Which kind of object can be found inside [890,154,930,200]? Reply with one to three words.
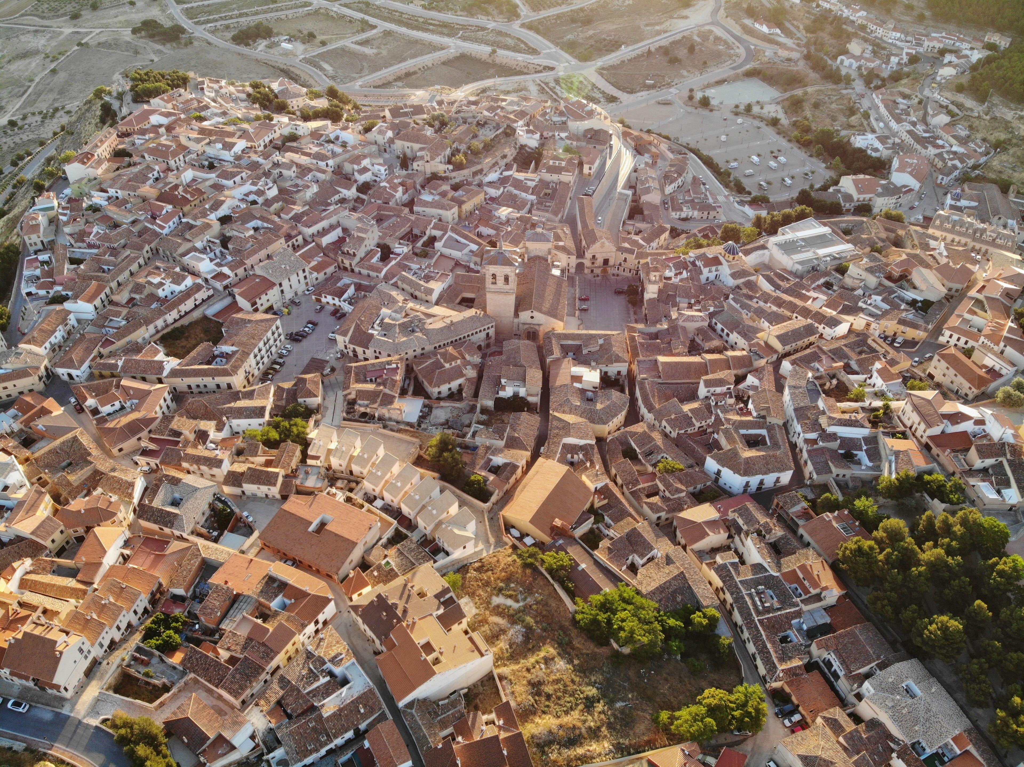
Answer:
house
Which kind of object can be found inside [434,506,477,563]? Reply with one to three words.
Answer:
house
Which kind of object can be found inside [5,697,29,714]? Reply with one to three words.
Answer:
car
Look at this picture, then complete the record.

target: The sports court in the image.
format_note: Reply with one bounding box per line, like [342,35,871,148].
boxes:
[697,77,780,106]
